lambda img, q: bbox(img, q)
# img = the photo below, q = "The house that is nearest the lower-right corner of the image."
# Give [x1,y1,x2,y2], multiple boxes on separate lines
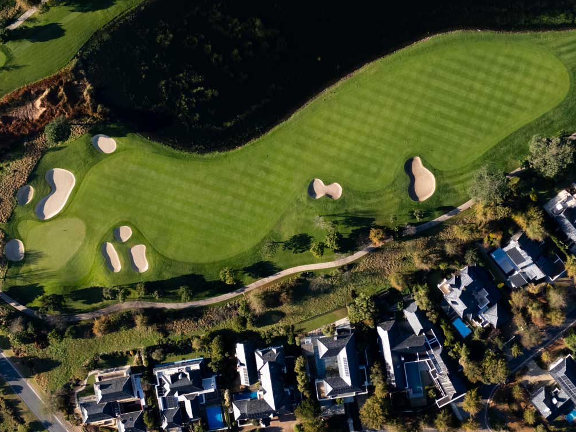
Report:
[526,355,576,420]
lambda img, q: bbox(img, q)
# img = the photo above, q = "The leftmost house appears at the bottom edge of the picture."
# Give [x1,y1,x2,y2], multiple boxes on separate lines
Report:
[77,361,147,432]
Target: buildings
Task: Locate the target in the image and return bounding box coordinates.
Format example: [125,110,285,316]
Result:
[154,354,217,432]
[305,328,367,401]
[435,263,510,330]
[505,232,563,288]
[526,355,576,420]
[544,175,576,260]
[230,337,290,427]
[77,361,147,432]
[375,304,464,406]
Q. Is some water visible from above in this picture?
Yes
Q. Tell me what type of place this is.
golf course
